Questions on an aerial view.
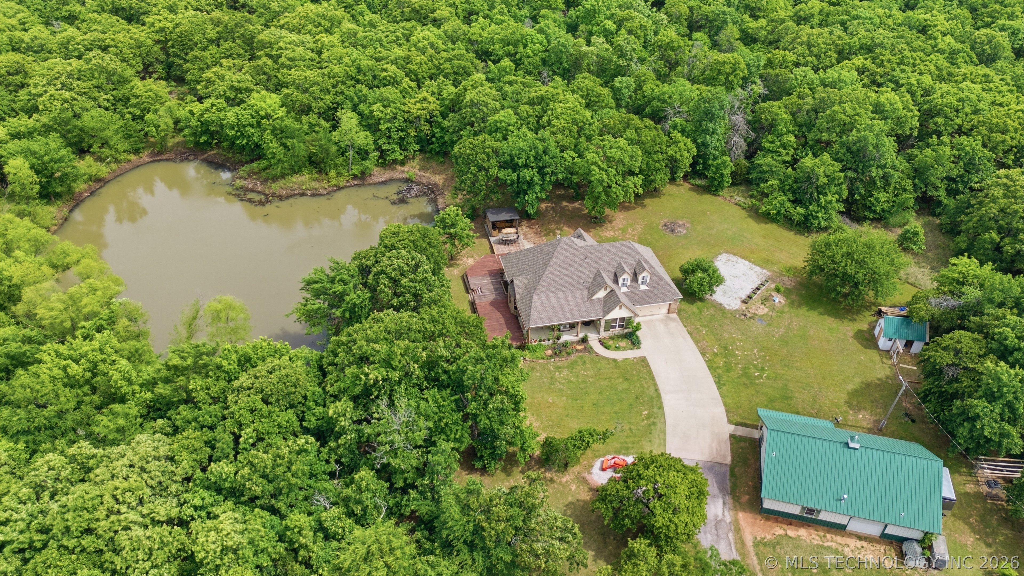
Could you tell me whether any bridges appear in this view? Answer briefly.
No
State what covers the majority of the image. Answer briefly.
trees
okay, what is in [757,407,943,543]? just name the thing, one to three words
building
